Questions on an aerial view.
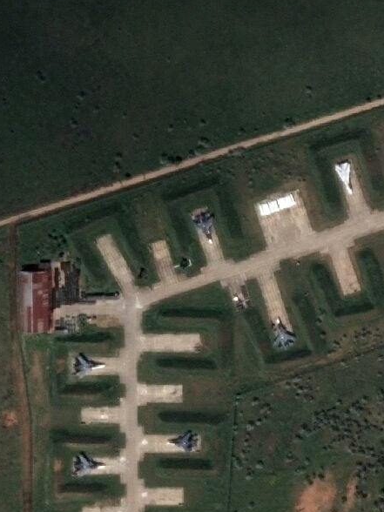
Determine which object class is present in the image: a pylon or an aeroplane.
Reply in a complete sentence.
There is an aeroplane in the scene.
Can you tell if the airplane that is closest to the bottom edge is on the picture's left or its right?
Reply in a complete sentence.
It is on the left.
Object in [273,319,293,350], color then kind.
gray airplane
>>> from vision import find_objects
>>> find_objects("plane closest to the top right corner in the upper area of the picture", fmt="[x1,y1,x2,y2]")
[335,161,350,193]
